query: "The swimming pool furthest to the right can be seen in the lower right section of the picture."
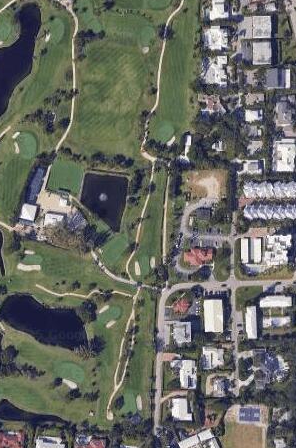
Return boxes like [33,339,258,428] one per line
[266,357,281,374]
